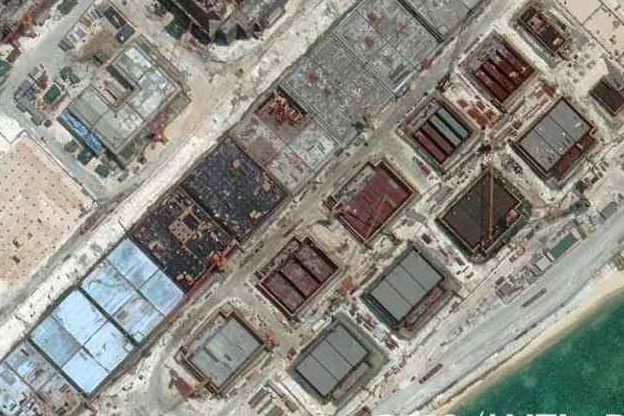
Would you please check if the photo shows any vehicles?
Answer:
Yes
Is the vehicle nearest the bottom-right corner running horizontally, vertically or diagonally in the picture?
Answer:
diagonally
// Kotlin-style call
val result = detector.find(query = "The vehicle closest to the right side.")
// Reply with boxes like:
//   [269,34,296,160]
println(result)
[523,287,547,307]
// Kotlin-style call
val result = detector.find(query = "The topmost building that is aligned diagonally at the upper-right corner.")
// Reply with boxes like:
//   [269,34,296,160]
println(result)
[518,6,566,55]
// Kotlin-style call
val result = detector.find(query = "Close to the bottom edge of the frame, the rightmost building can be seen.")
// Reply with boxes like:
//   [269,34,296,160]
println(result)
[291,322,378,404]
